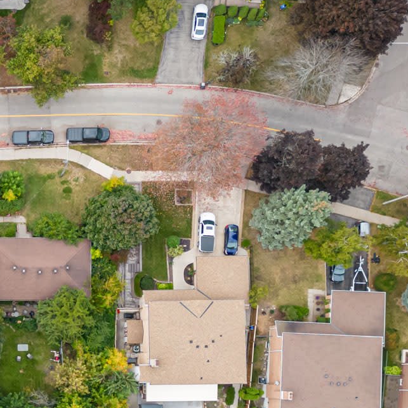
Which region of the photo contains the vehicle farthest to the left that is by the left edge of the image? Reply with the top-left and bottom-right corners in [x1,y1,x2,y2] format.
[12,127,54,145]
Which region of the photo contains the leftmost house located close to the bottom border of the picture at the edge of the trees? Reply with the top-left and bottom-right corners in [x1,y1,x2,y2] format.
[126,255,250,401]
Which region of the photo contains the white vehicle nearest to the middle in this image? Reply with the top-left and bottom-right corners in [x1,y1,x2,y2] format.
[197,212,216,253]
